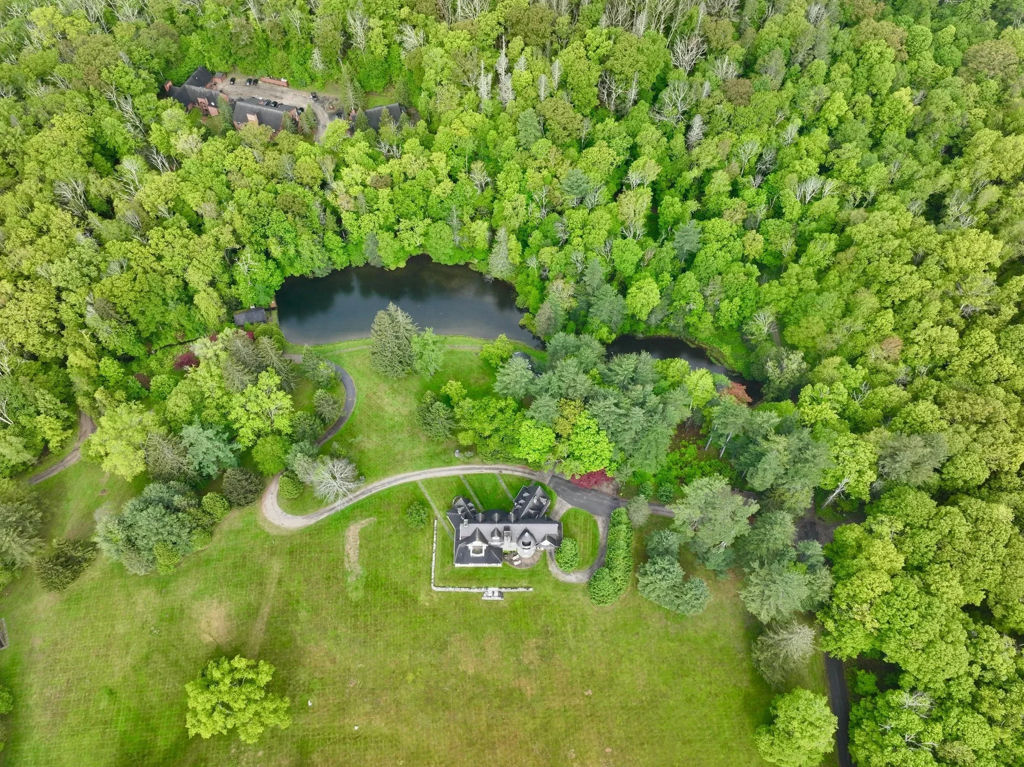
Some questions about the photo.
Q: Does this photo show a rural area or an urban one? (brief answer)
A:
rural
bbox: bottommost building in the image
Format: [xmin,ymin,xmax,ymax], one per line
[446,485,564,569]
